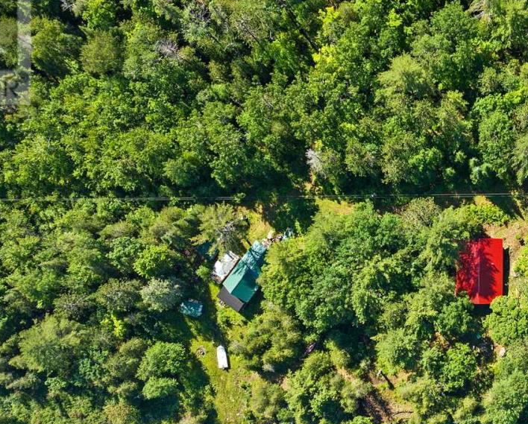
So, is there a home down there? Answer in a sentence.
Yes, a home can be made out from above.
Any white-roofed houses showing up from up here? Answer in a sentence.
No, no white-roofed house is visible in the view.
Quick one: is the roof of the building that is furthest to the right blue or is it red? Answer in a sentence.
In this view, the roof of the building that is furthest to the right is red.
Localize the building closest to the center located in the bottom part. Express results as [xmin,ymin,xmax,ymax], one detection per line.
[216,234,277,312]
